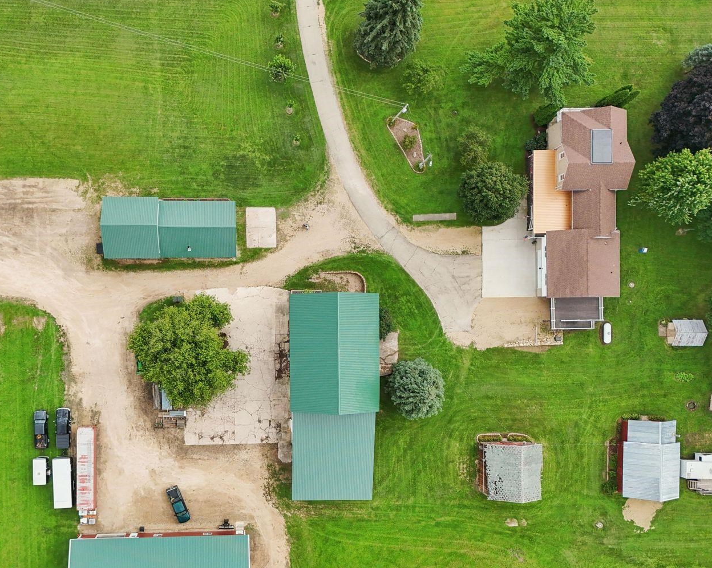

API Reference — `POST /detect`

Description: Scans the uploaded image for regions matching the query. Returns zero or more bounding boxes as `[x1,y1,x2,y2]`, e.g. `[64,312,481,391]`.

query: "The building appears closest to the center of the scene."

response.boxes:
[290,292,380,415]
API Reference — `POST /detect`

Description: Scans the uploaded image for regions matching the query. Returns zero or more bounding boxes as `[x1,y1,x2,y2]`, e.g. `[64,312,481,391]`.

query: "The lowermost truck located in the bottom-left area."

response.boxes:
[165,484,192,524]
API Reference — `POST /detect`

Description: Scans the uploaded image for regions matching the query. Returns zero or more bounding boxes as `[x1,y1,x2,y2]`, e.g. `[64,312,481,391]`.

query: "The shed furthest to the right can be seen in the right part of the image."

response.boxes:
[664,320,708,346]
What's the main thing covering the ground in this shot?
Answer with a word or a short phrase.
grass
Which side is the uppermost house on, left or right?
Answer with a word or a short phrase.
right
